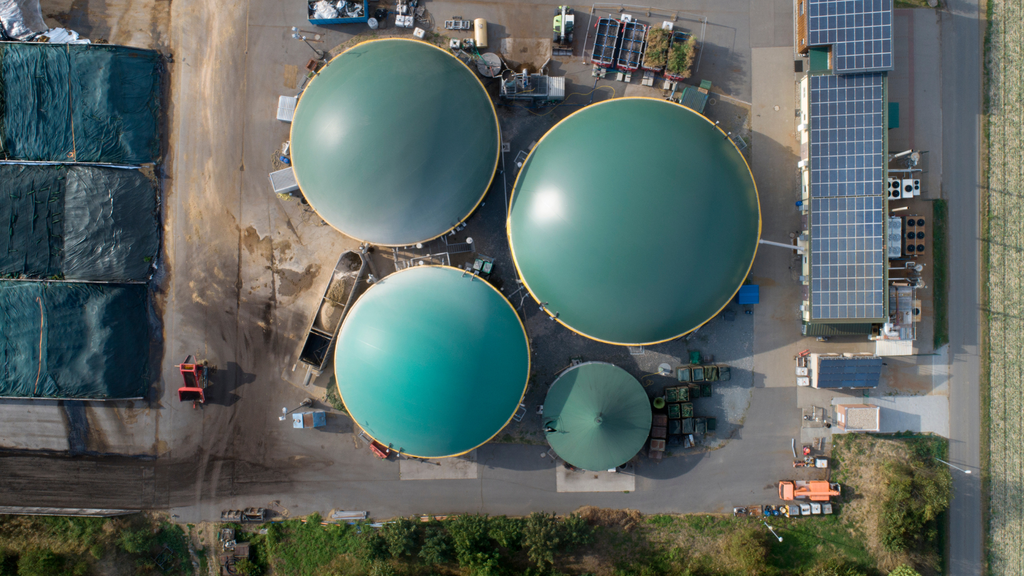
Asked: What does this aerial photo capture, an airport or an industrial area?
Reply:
industrial area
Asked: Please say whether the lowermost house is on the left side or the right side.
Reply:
right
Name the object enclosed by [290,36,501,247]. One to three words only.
storage tank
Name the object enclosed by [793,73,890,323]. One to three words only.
building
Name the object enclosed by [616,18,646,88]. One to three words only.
trailer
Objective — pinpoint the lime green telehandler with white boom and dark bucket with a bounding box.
[552,5,573,56]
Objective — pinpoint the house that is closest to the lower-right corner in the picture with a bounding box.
[835,404,881,431]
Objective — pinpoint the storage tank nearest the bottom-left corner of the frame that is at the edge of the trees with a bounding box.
[334,264,531,460]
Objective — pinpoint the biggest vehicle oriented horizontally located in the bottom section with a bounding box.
[775,477,843,502]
